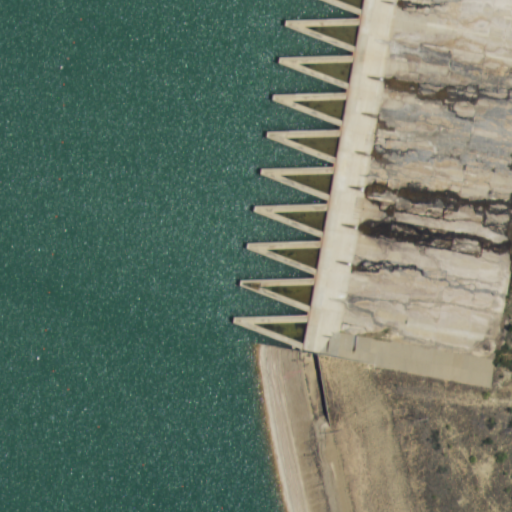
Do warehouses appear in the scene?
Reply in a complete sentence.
No, I find no warehouse anywhere in the image.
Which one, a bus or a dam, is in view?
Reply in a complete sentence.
The one in the frame is a dam.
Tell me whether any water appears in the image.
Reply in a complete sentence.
Yes, there's water in this view.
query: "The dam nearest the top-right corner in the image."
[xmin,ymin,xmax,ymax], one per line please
[234,0,397,354]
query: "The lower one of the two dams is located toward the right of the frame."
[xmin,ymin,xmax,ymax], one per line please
[256,344,412,512]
